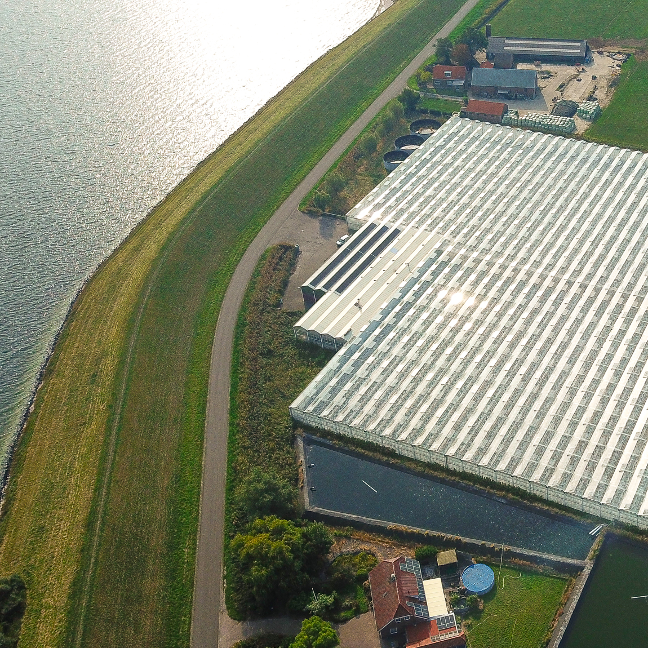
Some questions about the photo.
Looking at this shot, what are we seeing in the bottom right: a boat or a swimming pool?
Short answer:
swimming pool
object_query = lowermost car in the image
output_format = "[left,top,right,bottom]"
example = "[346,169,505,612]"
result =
[335,233,349,246]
